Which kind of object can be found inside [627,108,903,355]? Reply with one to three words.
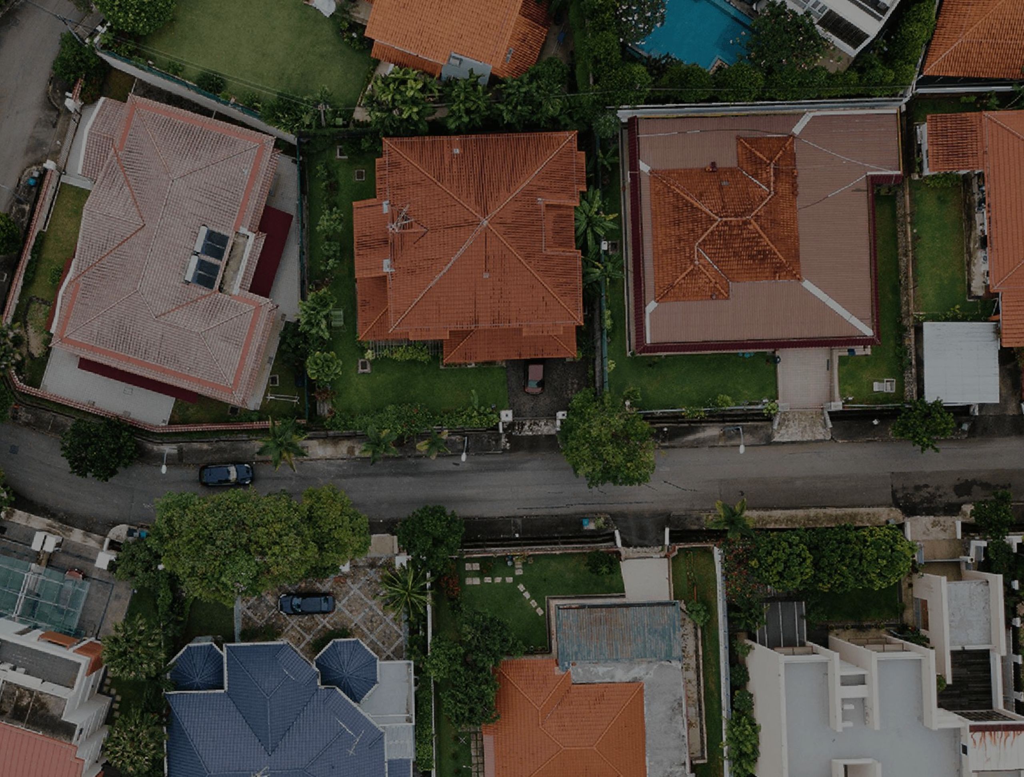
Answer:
house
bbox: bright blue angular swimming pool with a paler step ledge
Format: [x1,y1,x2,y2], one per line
[634,0,762,70]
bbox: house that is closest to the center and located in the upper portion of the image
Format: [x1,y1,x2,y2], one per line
[353,129,586,366]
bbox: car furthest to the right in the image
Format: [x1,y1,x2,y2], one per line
[522,359,547,396]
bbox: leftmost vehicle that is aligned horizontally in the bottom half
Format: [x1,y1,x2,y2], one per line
[196,461,256,489]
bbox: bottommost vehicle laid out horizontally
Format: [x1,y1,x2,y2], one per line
[278,590,337,619]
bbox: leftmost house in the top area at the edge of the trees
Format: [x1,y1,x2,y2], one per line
[46,92,294,410]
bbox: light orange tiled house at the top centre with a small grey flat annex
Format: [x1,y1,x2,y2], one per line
[365,0,553,108]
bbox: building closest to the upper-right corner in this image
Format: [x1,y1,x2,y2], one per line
[920,0,1024,87]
